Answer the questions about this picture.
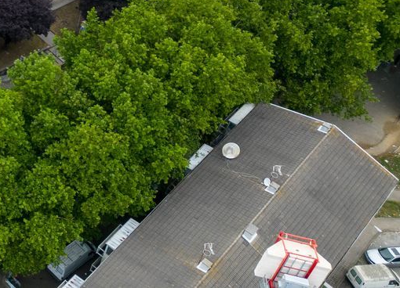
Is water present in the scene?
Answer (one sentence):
No, no water is visible.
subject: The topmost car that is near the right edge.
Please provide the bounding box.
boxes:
[361,243,400,267]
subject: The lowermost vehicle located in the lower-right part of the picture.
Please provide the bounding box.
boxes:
[343,263,400,288]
